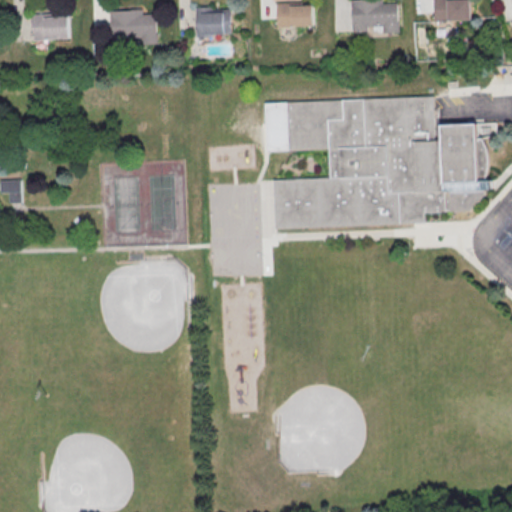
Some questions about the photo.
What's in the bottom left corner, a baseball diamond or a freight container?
baseball diamond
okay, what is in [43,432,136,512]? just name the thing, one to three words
baseball field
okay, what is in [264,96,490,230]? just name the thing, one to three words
building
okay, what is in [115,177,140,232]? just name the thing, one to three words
tennis court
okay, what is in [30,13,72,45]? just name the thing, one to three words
house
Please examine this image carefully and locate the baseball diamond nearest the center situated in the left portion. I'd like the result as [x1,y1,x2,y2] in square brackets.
[100,258,189,354]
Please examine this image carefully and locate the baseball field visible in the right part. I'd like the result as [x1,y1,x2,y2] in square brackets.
[272,384,368,478]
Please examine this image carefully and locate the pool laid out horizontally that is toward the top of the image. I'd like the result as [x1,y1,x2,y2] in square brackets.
[206,45,232,57]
